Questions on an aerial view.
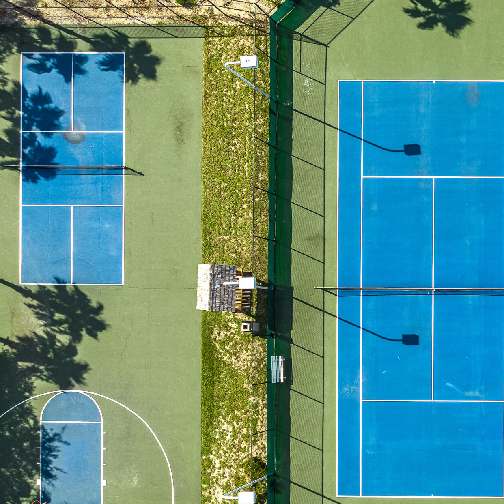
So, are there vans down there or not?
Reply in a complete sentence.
No, there's no van here.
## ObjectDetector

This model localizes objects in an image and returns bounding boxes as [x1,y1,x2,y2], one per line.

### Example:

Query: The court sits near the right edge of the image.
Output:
[336,81,504,498]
